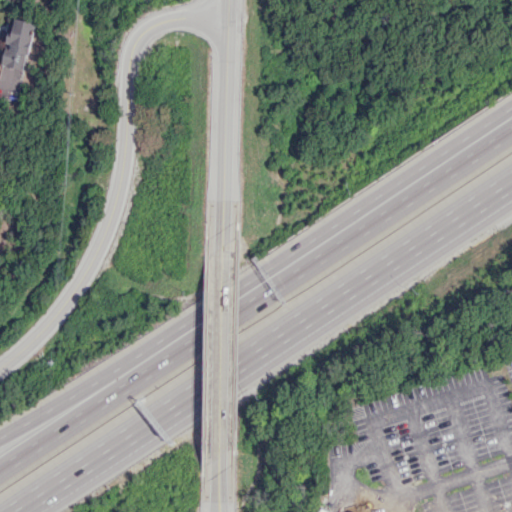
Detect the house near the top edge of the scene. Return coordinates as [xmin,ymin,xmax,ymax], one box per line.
[0,19,36,94]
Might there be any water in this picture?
No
